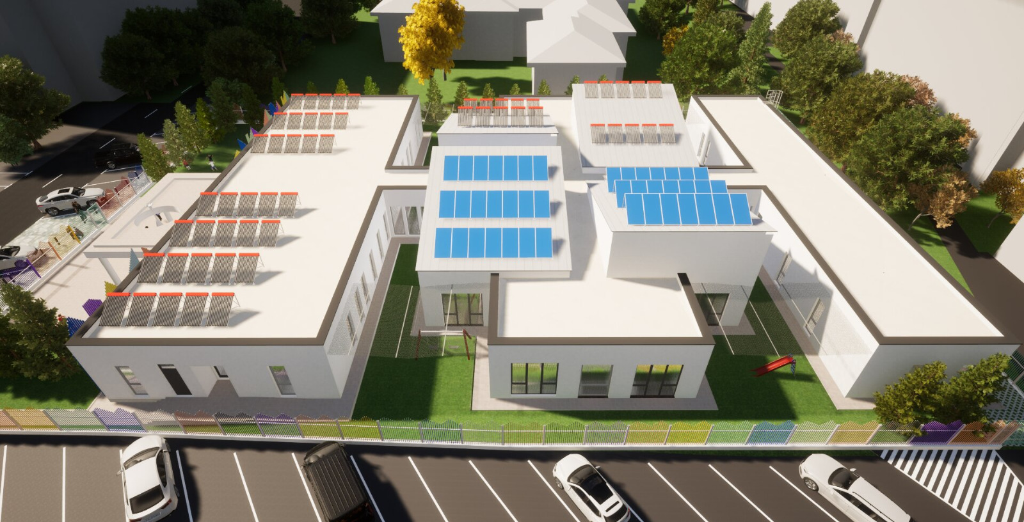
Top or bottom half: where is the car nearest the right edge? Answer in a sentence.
You can find the car nearest the right edge in the bottom half.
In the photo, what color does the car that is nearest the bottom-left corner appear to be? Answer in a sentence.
The color of the car that is nearest the bottom-left corner is white.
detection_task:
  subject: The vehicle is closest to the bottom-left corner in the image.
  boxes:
[114,432,177,522]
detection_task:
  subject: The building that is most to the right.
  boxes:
[994,217,1024,281]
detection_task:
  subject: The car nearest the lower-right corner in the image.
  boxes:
[791,450,922,522]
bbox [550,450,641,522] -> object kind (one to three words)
car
